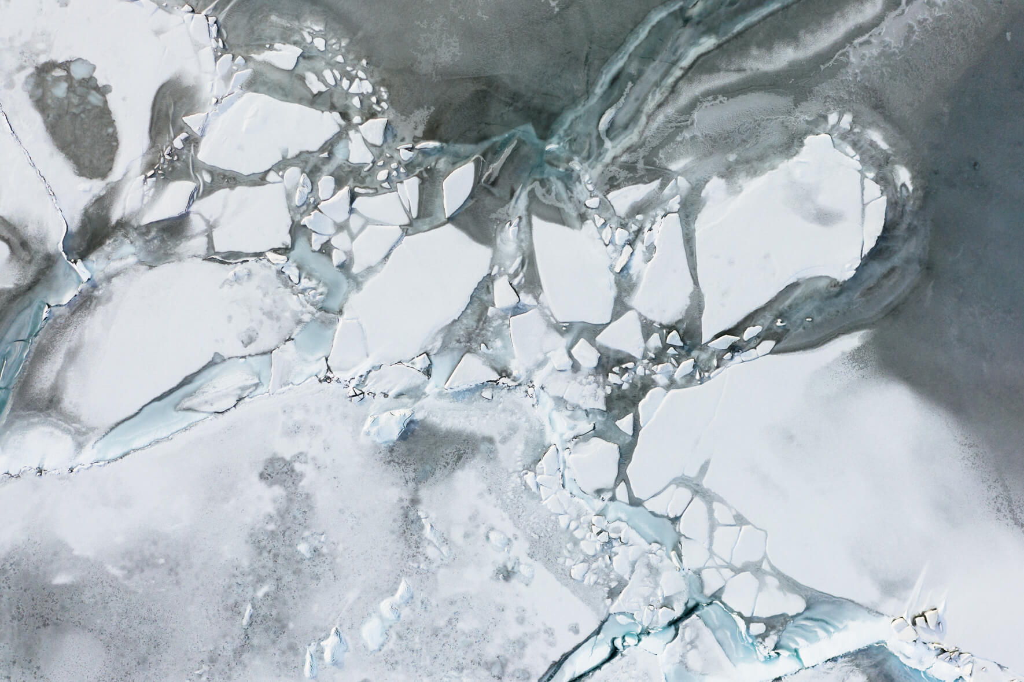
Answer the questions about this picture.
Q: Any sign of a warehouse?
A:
No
